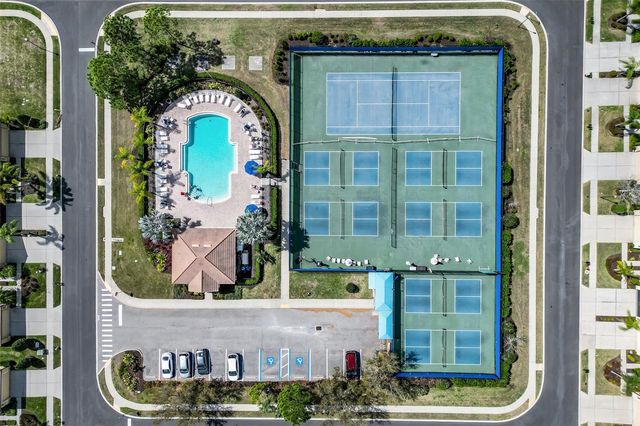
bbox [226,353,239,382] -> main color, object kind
white vehicle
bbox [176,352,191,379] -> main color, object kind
white car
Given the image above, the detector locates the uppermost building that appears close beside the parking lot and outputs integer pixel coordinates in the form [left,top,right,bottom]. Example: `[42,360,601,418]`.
[171,228,236,293]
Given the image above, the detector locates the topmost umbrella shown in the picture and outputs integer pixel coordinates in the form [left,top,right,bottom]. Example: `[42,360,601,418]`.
[244,160,261,176]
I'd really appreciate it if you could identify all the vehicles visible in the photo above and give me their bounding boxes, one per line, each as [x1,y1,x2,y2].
[345,351,358,380]
[159,352,172,380]
[194,349,209,377]
[176,352,191,379]
[226,353,239,382]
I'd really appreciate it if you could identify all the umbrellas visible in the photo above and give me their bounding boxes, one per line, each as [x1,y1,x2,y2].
[245,202,260,214]
[244,160,261,176]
